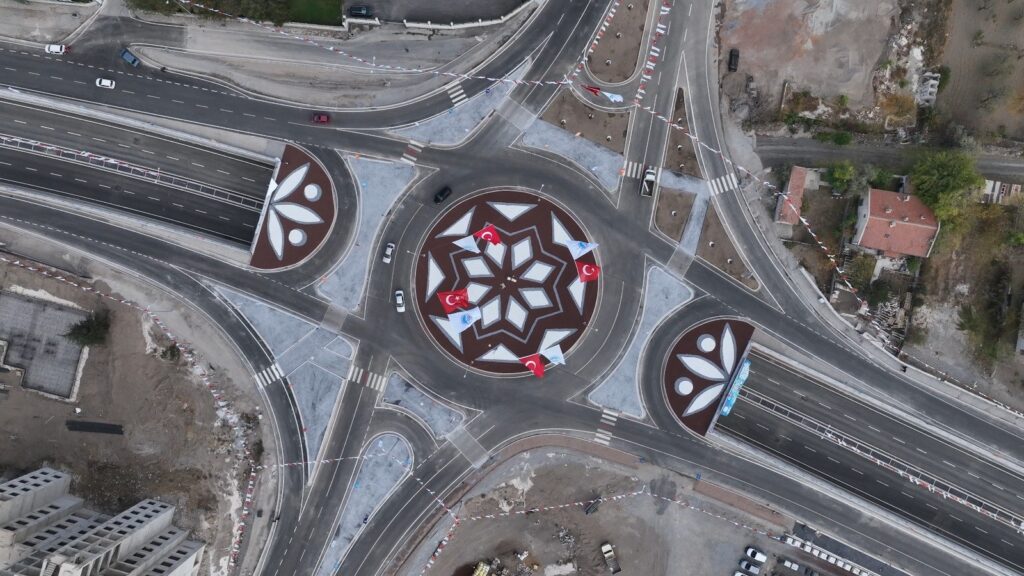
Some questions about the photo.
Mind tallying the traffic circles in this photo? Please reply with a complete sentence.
The count comes to 1 traffic circle.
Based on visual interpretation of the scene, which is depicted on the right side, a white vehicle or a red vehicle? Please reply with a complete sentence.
The one visible on the right side is a white vehicle.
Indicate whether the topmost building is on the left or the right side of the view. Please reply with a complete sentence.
The topmost building is on the right side of the image.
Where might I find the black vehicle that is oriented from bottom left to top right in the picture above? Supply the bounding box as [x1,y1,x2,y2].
[432,185,453,204]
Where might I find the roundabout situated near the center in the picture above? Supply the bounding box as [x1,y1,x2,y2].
[411,186,603,378]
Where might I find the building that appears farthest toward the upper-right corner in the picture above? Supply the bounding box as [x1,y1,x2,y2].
[914,72,941,107]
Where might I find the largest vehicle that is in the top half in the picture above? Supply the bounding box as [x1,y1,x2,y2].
[641,167,657,197]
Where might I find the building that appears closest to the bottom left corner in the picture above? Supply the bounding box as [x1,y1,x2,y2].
[0,468,205,576]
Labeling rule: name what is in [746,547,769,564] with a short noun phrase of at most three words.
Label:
car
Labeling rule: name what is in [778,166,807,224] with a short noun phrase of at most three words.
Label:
shed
